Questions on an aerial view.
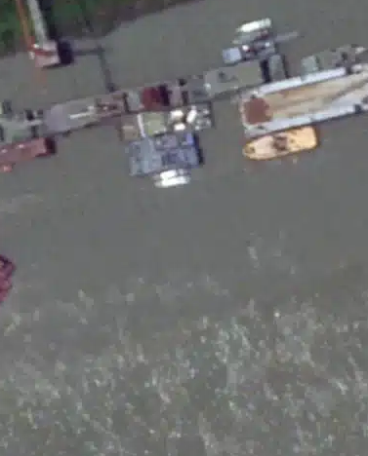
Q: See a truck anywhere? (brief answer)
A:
No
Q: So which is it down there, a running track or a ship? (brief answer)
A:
ship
